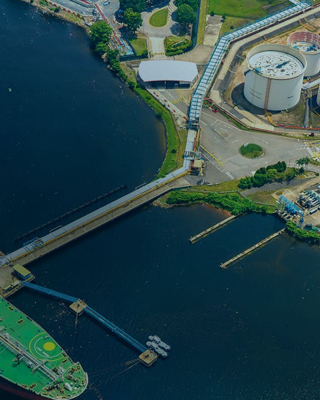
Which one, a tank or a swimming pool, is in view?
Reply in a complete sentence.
This aerial view contains a tank.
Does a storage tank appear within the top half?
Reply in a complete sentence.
Yes, I can see a storage tank within the top half.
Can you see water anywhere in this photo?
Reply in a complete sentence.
Yes, water shows up in the scene.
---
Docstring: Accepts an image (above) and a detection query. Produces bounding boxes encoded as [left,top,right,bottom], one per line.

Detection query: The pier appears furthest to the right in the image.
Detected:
[220,229,288,271]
